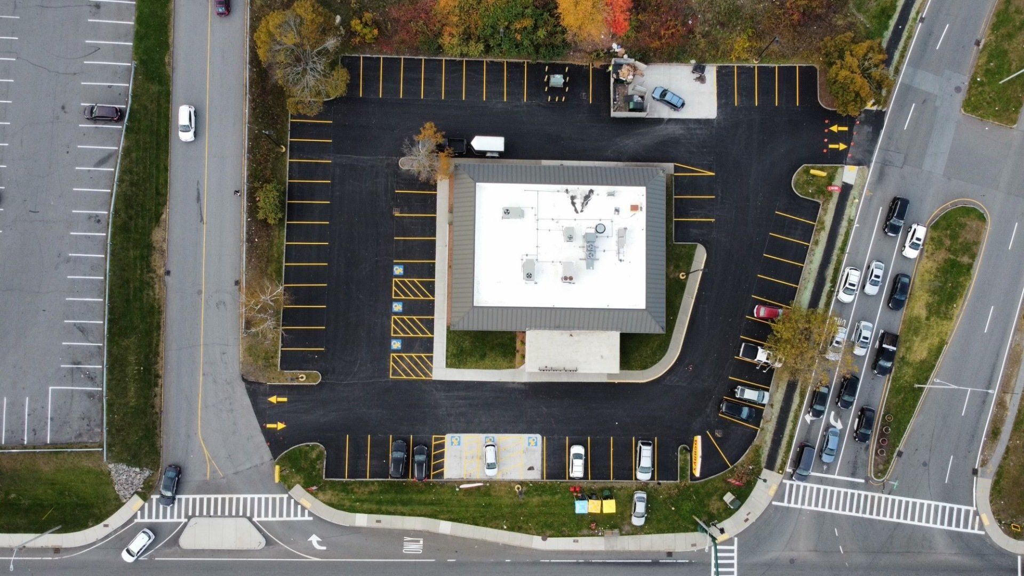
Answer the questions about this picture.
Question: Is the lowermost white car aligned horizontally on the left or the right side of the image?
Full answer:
The lowermost white car aligned horizontally appears in the right half of the scene.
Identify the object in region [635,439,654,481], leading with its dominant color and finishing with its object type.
white vehicle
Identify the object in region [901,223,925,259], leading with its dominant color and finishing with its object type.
white car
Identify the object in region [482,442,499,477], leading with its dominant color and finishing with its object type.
white car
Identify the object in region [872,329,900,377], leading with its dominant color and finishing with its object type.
black truck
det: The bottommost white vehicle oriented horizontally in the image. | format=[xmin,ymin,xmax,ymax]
[732,385,770,405]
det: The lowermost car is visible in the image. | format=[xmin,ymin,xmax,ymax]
[122,527,157,562]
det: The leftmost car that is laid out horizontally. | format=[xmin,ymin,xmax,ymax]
[86,104,124,122]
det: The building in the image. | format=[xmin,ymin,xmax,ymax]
[450,163,666,374]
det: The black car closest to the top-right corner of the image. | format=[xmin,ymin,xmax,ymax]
[882,196,908,237]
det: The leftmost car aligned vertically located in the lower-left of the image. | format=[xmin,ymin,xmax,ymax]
[159,464,182,504]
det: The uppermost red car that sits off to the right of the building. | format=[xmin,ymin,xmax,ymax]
[753,304,791,322]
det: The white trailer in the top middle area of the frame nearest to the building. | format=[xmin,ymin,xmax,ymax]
[467,136,505,157]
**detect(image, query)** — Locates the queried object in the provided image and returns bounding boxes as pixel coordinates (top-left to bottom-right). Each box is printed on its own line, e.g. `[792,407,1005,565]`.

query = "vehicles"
[390,439,408,479]
[807,384,830,420]
[630,488,648,527]
[850,319,872,356]
[178,105,196,141]
[790,441,814,482]
[635,439,654,481]
[861,260,883,296]
[214,0,231,17]
[569,443,586,479]
[411,443,429,482]
[86,104,124,122]
[826,325,848,361]
[732,385,770,405]
[718,399,756,421]
[887,273,910,311]
[901,223,925,259]
[650,87,686,114]
[818,426,840,463]
[737,342,783,369]
[882,196,908,237]
[837,267,859,304]
[482,442,499,477]
[835,374,859,411]
[852,405,875,444]
[872,329,900,377]
[753,304,791,322]
[159,464,182,504]
[122,527,157,562]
